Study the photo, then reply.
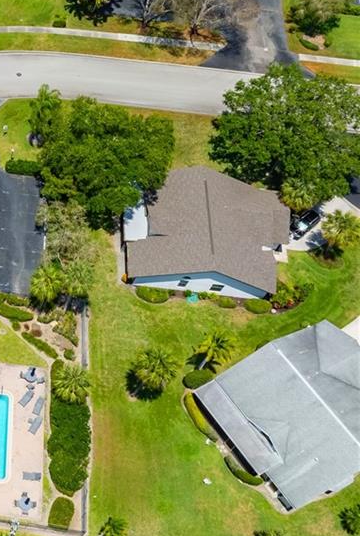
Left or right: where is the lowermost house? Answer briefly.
right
